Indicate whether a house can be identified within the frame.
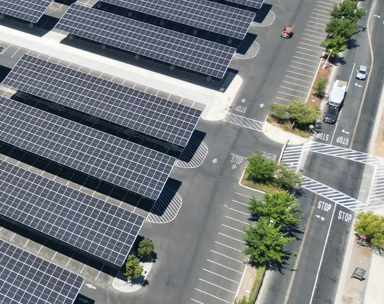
No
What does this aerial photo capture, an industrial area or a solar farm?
solar farm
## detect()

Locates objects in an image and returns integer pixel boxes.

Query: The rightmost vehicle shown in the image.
[355,67,368,81]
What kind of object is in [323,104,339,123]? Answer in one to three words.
vehicle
